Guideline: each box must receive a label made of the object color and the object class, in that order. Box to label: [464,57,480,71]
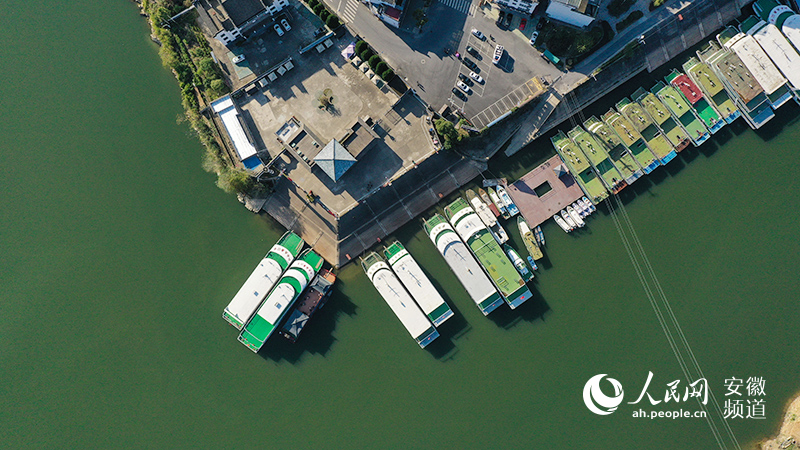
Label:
black car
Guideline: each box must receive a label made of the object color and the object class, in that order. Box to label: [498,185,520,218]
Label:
white boat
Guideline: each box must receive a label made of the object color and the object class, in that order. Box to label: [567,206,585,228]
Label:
white boat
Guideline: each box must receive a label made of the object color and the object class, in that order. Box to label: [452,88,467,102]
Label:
black car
